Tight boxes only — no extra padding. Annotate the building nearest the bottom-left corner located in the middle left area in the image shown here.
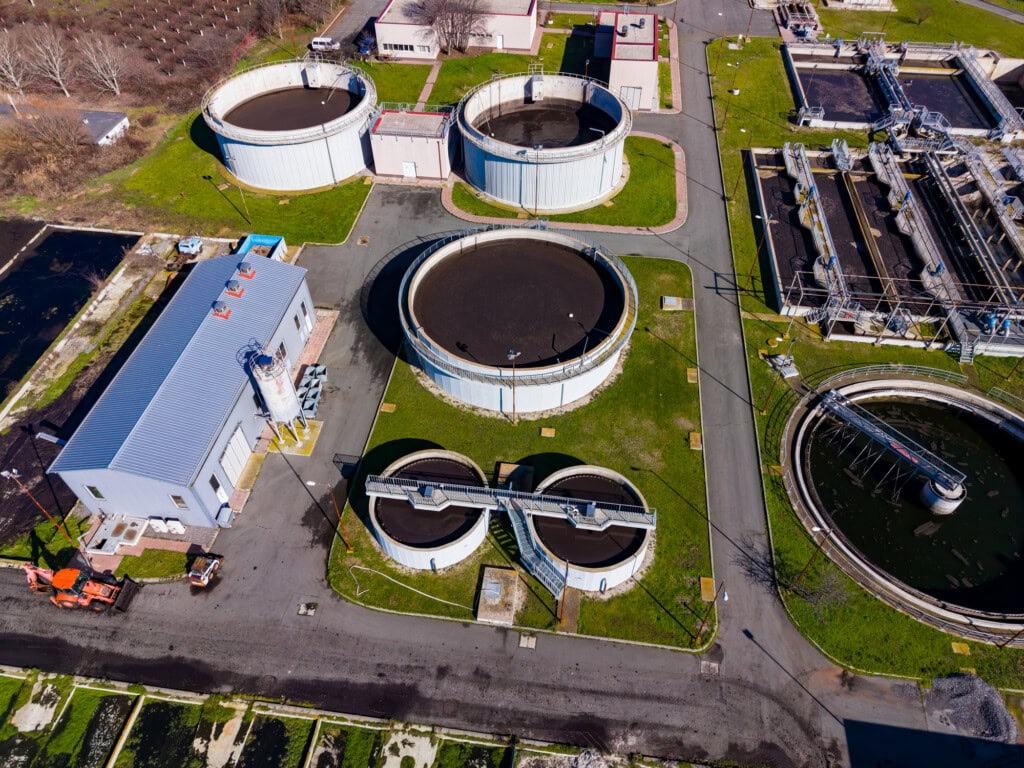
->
[50,249,313,527]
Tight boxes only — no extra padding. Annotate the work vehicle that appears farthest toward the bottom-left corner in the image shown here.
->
[19,551,138,618]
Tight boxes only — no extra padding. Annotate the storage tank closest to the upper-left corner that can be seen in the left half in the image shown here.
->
[200,48,375,189]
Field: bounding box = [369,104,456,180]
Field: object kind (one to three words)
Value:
building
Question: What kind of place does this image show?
industrial area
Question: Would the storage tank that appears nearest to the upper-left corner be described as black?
No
